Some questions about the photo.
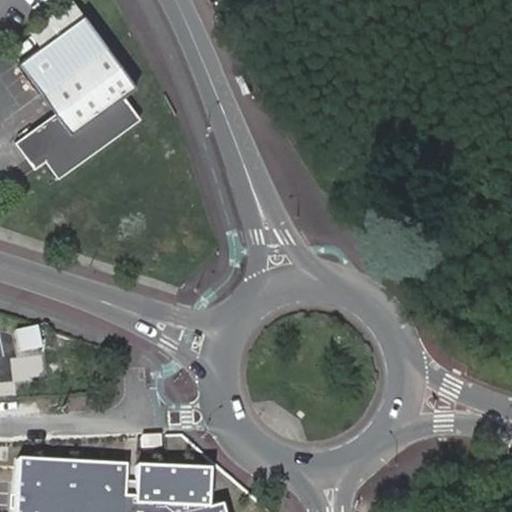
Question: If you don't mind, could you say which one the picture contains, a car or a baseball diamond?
car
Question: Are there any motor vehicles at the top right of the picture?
No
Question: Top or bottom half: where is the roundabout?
bottom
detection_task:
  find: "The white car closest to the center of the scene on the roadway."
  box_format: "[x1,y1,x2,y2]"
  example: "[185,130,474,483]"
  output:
[134,320,158,338]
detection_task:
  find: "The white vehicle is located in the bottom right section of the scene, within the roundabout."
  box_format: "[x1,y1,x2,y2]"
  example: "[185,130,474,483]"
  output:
[390,398,402,418]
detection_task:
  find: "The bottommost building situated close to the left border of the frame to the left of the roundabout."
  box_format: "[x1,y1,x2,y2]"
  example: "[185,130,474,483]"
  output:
[9,456,130,512]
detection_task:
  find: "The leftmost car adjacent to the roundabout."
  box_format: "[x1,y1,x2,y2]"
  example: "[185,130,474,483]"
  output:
[191,361,206,380]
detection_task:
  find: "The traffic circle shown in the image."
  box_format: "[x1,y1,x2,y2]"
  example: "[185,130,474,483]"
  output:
[206,266,424,484]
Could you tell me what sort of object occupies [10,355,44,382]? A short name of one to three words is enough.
shed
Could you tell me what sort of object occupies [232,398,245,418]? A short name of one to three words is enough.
vehicle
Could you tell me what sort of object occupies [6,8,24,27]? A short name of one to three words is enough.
car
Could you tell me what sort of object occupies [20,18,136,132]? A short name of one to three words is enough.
building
